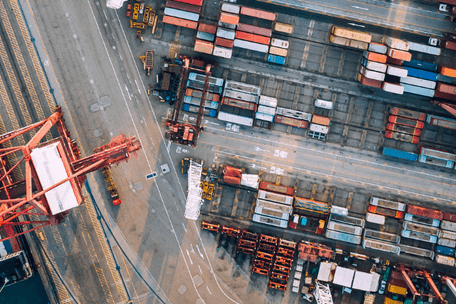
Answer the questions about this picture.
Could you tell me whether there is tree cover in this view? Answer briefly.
No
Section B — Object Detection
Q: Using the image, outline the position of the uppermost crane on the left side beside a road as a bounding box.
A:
[152,56,211,146]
